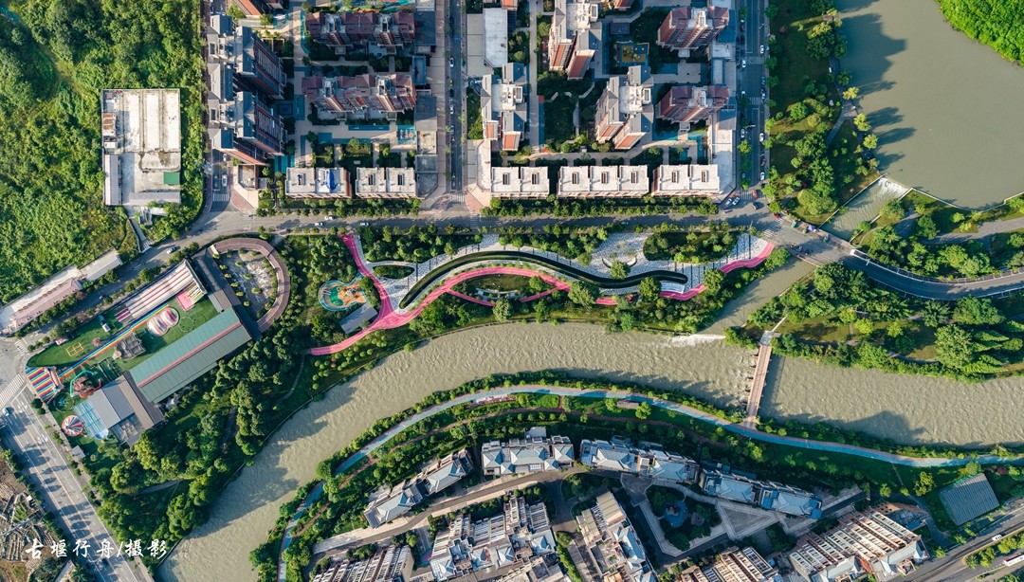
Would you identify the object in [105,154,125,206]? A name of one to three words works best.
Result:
shed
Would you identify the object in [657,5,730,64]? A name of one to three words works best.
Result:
building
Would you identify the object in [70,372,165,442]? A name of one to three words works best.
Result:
building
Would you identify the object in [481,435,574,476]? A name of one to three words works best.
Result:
house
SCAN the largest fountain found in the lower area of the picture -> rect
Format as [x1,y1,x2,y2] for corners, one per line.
[53,392,72,412]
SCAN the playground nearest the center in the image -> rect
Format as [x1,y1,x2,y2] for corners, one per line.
[319,272,366,311]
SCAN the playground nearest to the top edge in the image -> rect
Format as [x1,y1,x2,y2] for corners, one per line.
[616,41,650,66]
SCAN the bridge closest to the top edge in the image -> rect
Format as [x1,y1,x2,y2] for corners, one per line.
[773,211,855,267]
